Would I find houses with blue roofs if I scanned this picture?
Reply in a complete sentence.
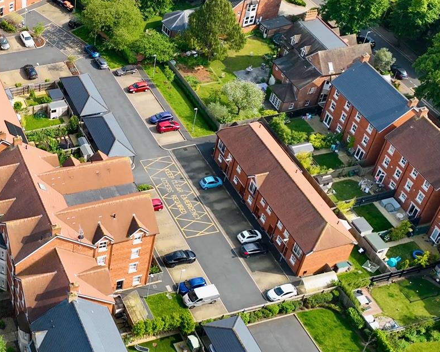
Yes, a house with a blue roof is visible in the scene.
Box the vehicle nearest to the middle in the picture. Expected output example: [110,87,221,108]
[199,176,223,190]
